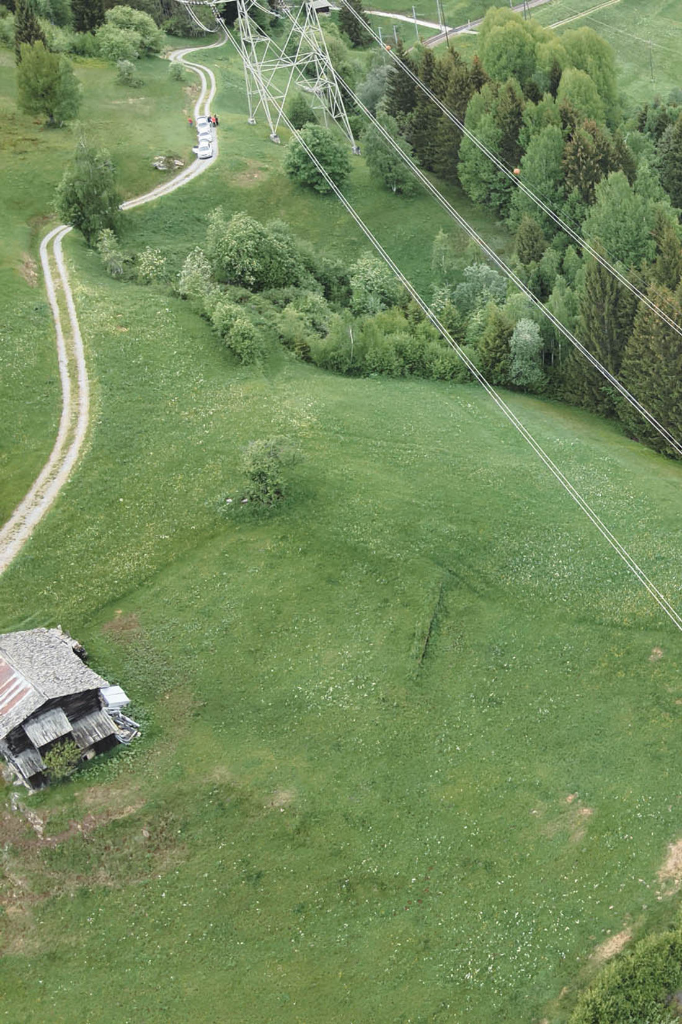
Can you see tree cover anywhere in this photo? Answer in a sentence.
Yes, tree cover shows up in the scene.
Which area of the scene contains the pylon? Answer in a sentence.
Look in the top portion of the view to spot the pylon.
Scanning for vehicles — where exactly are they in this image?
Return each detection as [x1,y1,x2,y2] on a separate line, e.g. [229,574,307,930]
[195,110,216,127]
[195,124,213,140]
[190,138,212,159]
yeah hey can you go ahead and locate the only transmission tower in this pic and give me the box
[192,0,361,150]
